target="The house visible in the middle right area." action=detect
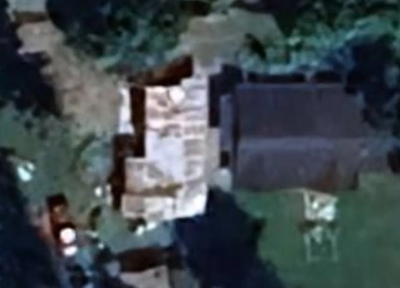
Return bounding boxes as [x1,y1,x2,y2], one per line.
[220,84,391,191]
